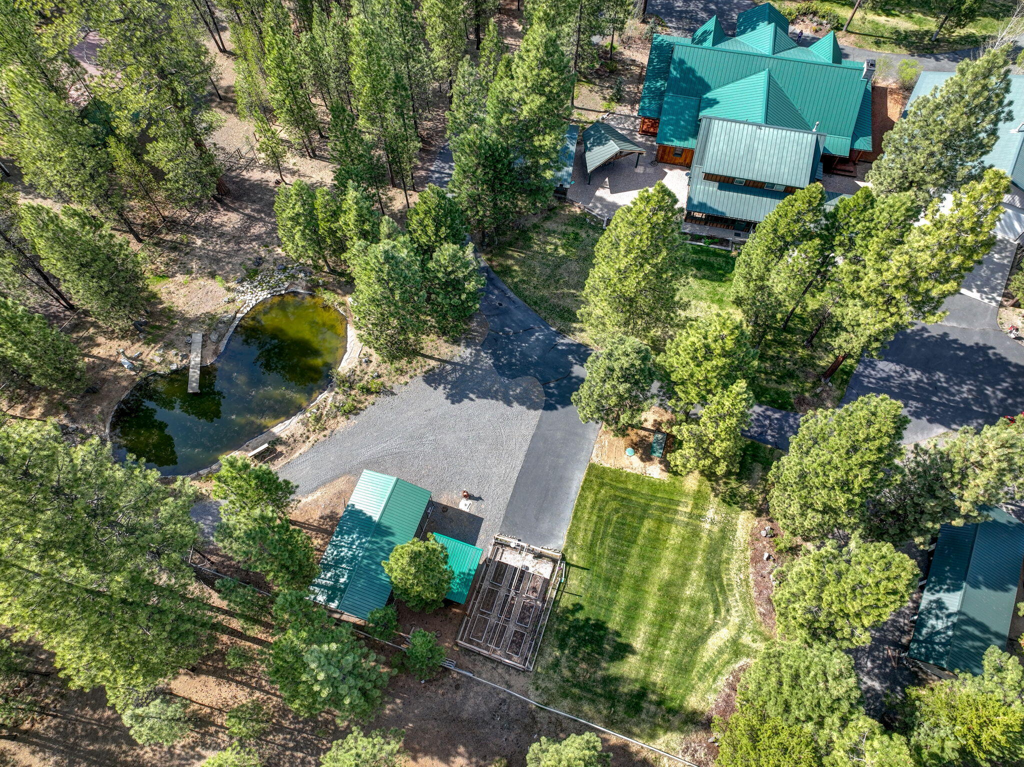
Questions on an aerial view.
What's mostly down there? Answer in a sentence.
The bulk of the photo consists of trees.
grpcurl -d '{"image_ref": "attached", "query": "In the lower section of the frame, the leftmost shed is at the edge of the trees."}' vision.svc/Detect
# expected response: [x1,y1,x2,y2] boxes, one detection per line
[305,470,434,621]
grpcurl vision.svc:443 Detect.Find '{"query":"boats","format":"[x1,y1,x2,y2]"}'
[120,357,137,371]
